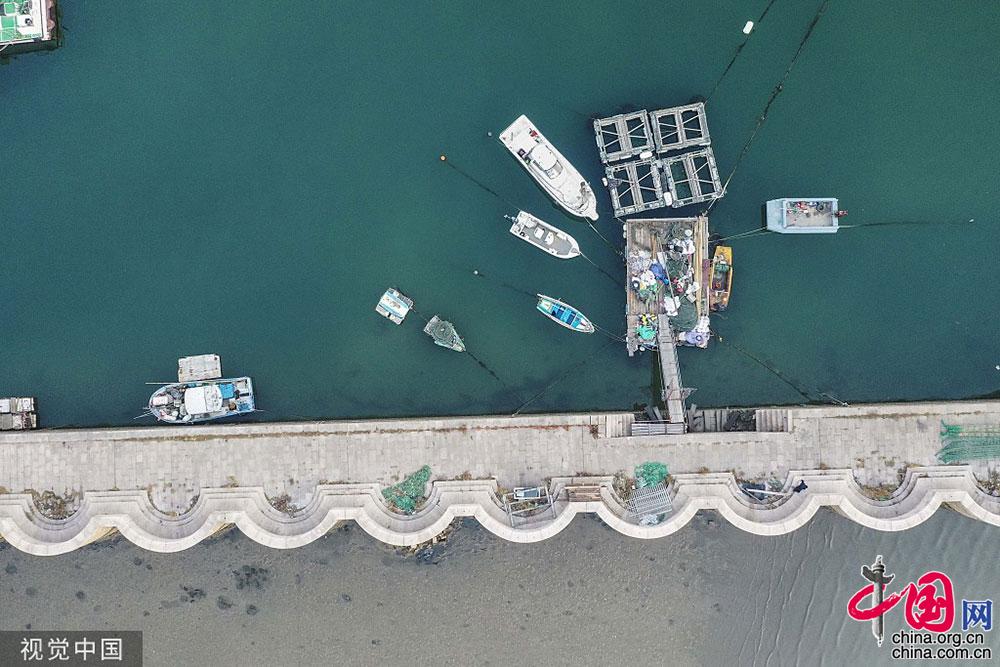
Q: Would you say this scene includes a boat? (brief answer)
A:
Yes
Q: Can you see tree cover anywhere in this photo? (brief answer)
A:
No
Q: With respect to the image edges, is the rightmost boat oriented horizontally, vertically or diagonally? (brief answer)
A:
horizontally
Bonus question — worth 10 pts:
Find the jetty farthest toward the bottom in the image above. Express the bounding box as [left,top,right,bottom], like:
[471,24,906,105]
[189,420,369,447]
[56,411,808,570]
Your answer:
[0,397,1000,555]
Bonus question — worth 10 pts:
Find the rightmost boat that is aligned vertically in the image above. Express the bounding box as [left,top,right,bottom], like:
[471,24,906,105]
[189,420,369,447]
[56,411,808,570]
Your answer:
[710,246,734,313]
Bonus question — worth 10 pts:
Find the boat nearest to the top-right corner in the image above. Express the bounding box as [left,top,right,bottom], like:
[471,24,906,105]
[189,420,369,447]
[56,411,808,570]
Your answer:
[766,198,847,233]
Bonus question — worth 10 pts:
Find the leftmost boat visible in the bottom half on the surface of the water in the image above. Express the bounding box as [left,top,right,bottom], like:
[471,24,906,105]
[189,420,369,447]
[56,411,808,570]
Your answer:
[135,377,255,424]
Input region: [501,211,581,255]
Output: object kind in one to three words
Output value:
boat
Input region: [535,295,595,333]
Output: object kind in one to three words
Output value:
boat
